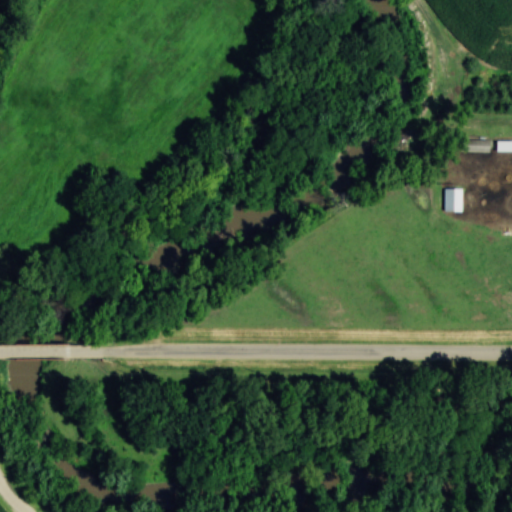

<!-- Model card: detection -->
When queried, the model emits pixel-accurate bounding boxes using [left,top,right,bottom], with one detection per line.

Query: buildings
[446,188,464,213]
[462,139,493,153]
[498,140,512,153]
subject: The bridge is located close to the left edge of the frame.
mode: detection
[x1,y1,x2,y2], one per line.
[8,344,103,360]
